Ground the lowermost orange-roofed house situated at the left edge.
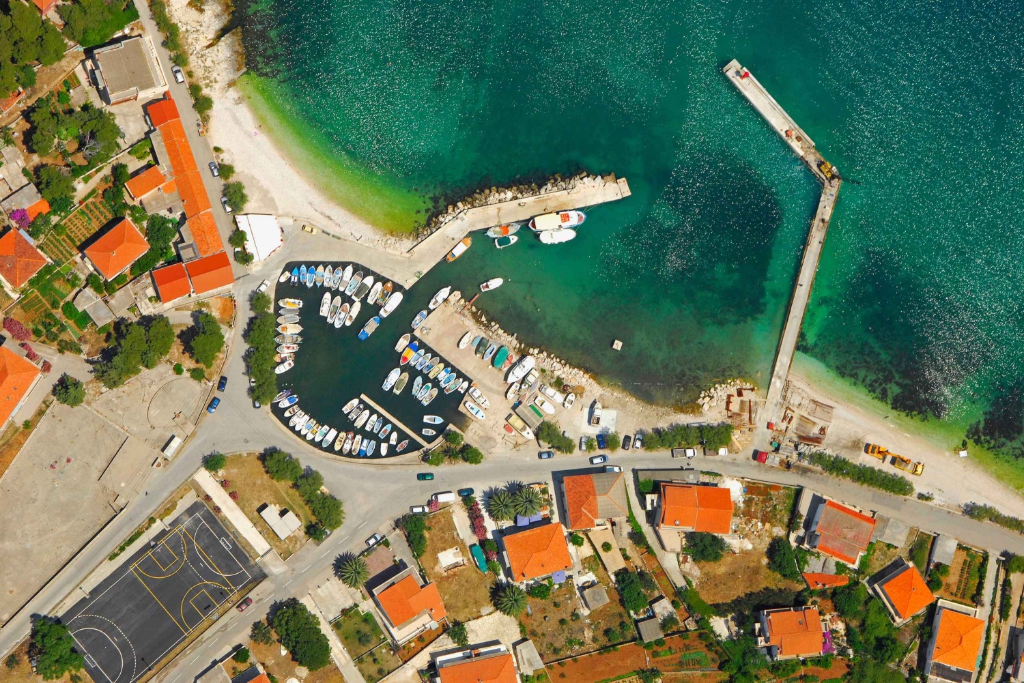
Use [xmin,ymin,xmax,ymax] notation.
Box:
[0,344,49,435]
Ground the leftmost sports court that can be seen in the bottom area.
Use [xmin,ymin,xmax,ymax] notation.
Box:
[60,500,266,683]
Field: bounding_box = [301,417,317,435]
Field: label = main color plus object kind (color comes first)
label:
white boat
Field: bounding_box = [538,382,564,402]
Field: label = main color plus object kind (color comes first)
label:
white boat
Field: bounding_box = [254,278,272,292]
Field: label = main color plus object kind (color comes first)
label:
white car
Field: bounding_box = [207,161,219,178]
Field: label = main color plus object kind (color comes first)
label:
gray vehicle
